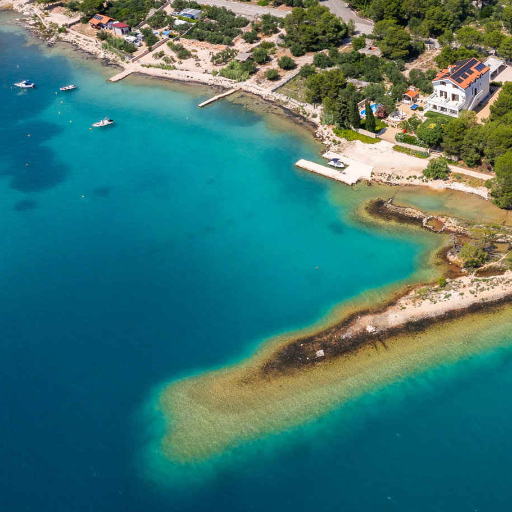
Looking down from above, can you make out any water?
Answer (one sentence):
Yes, water can be seen from above here.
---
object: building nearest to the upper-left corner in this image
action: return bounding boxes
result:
[85,17,113,34]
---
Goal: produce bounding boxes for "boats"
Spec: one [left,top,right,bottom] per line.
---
[327,156,344,166]
[59,83,77,91]
[91,115,114,126]
[13,78,36,87]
